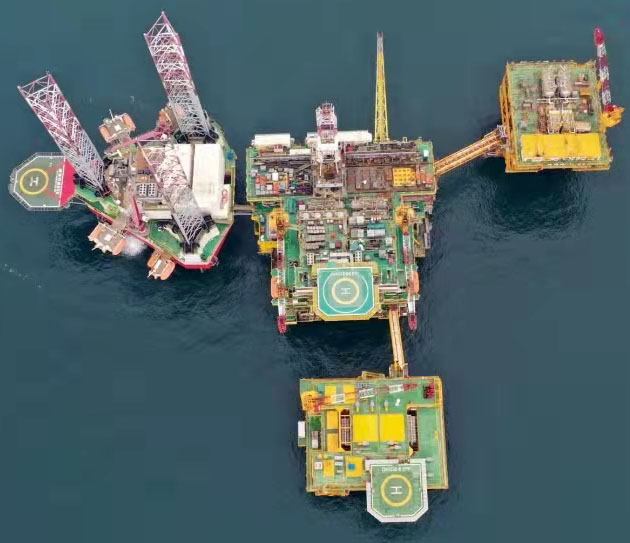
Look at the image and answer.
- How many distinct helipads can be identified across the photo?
three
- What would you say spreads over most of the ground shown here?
water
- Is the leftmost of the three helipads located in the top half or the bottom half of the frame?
top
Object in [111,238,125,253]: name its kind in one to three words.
boat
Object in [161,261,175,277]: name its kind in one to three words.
boat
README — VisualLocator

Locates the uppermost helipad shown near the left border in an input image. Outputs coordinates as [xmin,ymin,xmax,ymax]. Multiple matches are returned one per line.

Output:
[9,151,82,210]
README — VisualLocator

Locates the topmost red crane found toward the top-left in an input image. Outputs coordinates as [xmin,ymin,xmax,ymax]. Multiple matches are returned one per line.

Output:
[102,119,172,159]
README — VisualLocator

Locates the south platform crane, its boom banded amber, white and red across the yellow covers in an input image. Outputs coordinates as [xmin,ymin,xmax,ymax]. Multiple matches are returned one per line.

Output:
[295,384,418,410]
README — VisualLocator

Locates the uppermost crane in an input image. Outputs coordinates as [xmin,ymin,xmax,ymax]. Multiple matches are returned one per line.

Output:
[593,31,620,129]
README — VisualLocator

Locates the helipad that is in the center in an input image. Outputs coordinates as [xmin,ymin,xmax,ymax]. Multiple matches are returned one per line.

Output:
[311,263,380,322]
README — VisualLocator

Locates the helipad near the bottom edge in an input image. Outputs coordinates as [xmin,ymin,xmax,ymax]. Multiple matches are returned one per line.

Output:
[365,458,428,523]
